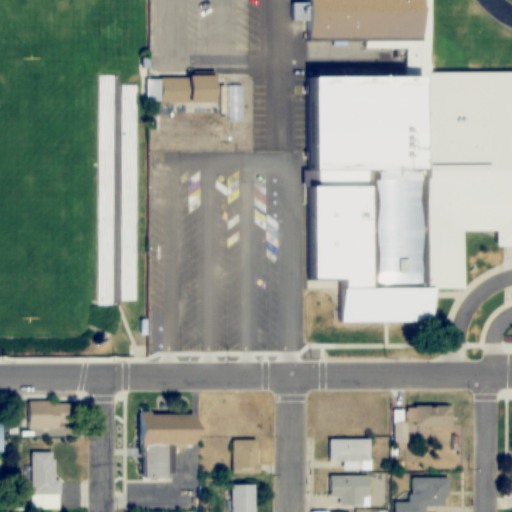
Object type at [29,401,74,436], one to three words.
house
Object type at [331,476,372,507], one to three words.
house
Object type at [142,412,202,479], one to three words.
building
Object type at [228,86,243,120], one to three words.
shed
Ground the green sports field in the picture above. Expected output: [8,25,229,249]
[0,0,144,338]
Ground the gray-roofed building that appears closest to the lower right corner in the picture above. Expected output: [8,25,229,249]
[395,476,450,512]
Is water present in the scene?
No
